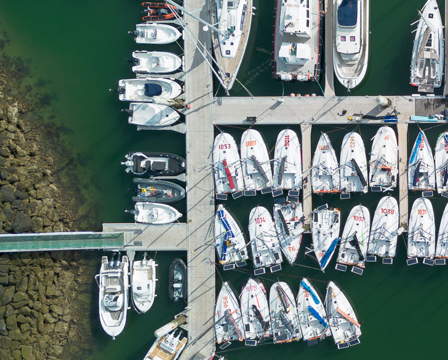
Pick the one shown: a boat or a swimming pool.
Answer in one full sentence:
I can see a boat in this picture.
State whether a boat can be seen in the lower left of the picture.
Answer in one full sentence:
Yes, there is a boat in the lower left of the picture.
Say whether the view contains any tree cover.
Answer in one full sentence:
No, there's no tree cover in this view.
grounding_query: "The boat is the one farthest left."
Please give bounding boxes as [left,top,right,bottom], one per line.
[96,248,132,339]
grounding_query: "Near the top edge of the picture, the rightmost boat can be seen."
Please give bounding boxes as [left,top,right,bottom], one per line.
[410,0,446,91]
